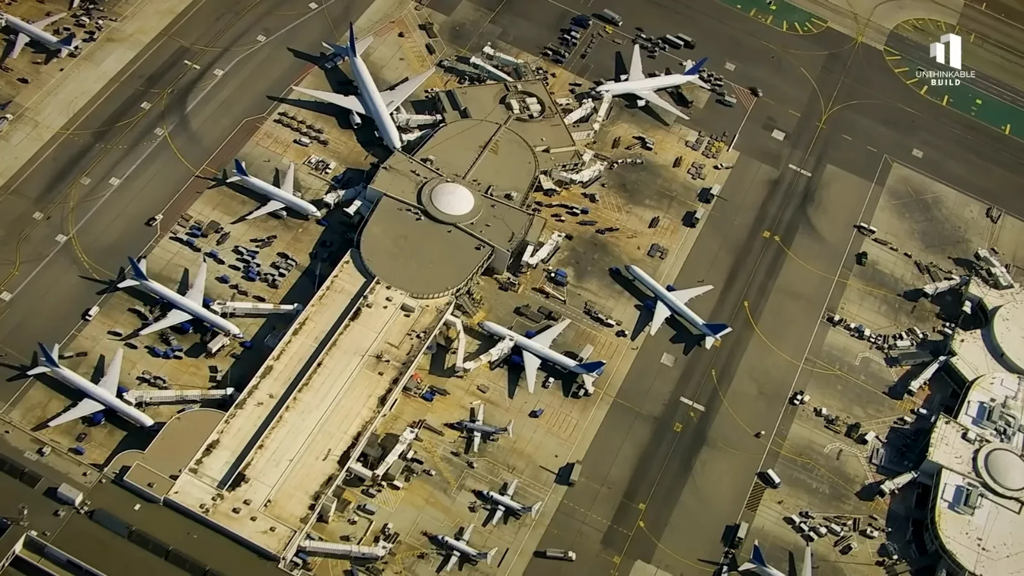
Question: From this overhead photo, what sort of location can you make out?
airport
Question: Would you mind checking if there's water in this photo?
No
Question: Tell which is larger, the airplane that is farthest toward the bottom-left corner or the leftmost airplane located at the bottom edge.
the airplane that is farthest toward the bottom-left corner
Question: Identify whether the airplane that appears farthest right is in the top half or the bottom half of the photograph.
bottom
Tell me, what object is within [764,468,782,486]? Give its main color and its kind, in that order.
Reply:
white vehicle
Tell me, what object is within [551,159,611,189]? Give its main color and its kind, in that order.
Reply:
white jet bridge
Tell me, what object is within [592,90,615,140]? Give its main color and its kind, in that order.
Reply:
white jet bridge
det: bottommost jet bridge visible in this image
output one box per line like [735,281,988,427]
[298,539,393,575]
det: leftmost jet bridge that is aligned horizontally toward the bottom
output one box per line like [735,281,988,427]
[118,386,237,410]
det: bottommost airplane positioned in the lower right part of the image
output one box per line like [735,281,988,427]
[748,533,825,576]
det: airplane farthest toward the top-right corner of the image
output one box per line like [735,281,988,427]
[595,43,717,120]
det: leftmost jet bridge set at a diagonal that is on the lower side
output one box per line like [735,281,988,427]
[346,424,419,485]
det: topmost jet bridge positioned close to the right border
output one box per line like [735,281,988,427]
[968,244,1005,274]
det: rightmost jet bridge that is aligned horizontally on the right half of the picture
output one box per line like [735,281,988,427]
[914,274,970,301]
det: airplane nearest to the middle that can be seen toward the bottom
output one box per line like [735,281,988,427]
[477,316,603,391]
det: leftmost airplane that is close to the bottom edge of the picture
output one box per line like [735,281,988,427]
[438,523,500,573]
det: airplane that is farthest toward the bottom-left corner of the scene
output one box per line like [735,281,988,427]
[30,345,155,428]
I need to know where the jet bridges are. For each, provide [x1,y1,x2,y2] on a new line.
[896,356,947,398]
[298,539,393,575]
[592,90,615,140]
[447,316,519,375]
[464,54,518,83]
[968,244,1005,274]
[563,95,594,127]
[518,229,569,271]
[0,16,11,47]
[914,274,970,301]
[436,58,489,85]
[394,114,442,132]
[400,126,435,150]
[551,159,611,189]
[477,44,527,68]
[338,198,366,222]
[346,424,419,485]
[322,185,368,210]
[118,386,237,410]
[208,299,303,322]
